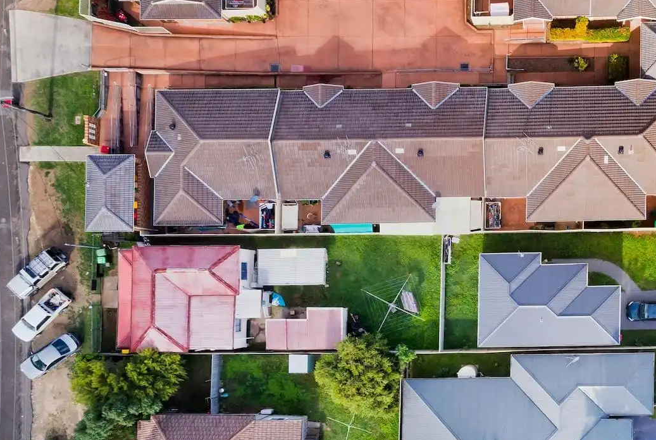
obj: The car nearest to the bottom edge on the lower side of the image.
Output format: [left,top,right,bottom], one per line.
[23,333,81,379]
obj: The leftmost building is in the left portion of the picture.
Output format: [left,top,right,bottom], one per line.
[83,153,142,233]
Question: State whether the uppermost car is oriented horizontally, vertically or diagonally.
diagonally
